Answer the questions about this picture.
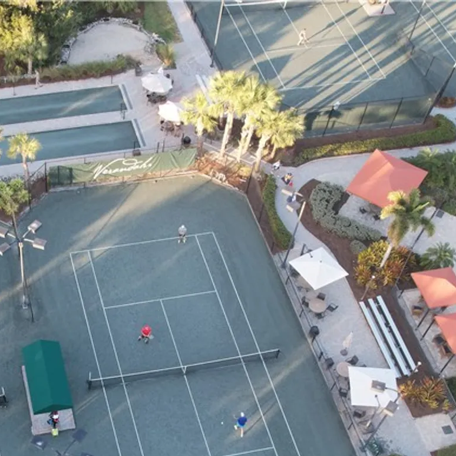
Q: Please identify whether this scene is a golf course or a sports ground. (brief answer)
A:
sports ground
